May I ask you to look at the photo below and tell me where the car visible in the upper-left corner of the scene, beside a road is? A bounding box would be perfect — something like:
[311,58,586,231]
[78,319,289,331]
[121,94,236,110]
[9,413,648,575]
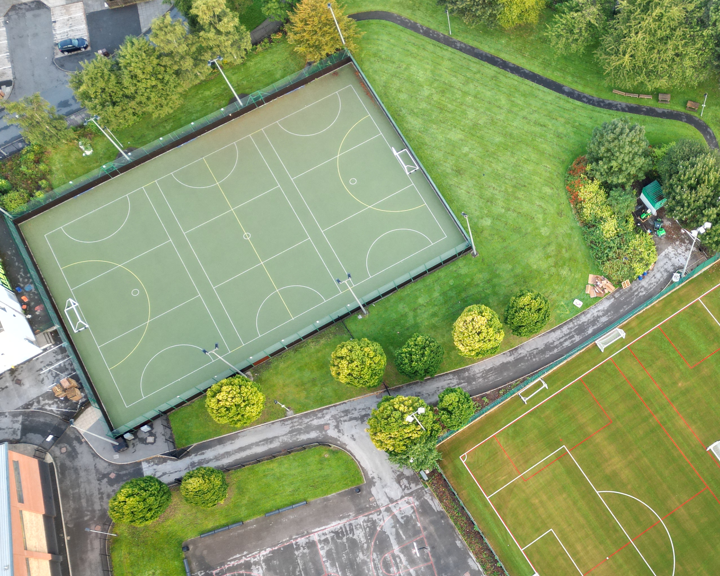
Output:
[57,38,85,54]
